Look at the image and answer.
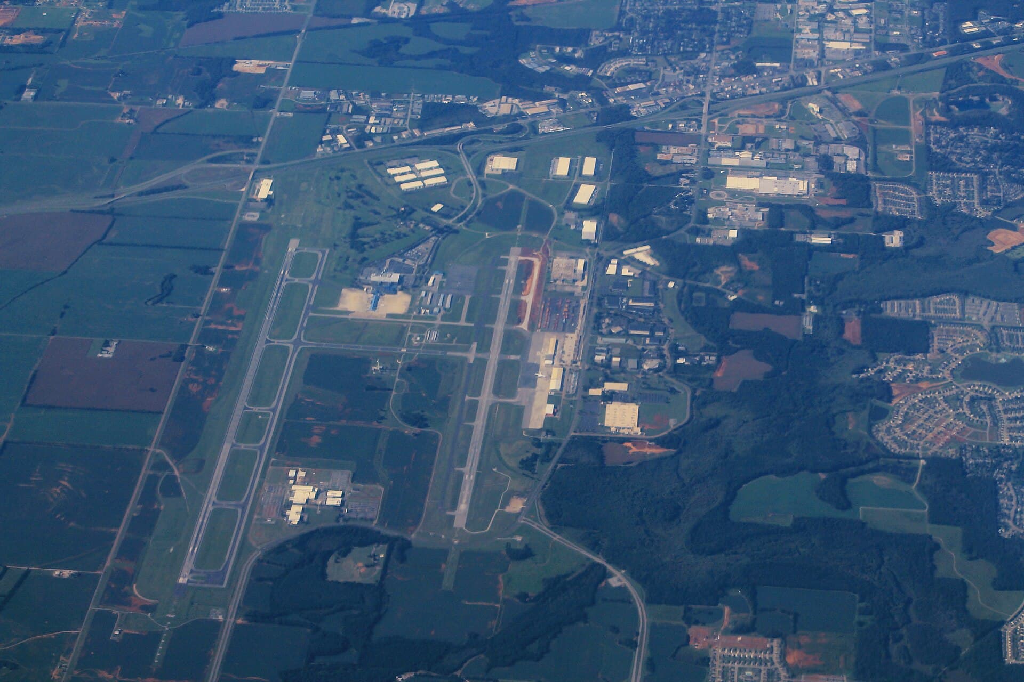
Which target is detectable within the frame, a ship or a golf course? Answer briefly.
golf course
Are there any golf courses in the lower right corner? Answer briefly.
No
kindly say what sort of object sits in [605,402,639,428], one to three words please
building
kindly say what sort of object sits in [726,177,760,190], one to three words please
building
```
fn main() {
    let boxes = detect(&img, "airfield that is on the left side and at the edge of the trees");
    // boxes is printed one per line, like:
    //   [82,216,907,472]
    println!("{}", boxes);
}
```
[133,134,614,628]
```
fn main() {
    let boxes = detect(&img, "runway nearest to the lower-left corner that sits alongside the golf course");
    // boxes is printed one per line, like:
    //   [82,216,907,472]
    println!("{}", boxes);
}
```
[179,247,296,582]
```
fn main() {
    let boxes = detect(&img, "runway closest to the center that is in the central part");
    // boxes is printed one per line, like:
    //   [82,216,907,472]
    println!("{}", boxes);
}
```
[453,249,519,532]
